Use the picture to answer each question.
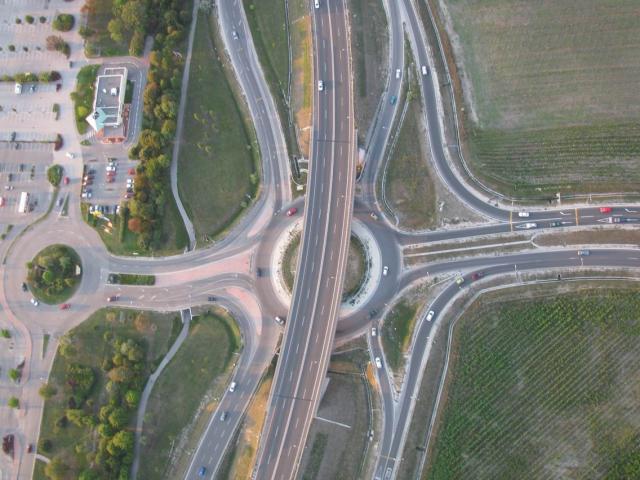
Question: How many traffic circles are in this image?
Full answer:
The number of traffic circles here is 2.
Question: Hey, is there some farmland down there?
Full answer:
Yes, the picture does contain farmland.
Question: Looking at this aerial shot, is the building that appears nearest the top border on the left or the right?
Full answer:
The building that appears nearest the top border sits on the left side.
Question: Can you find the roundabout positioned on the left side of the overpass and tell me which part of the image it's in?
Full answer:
Look in the left portion of the view to spot the roundabout positioned on the left side of the overpass.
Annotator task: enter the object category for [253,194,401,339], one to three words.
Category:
roundabout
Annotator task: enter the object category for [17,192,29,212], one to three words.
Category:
vehicle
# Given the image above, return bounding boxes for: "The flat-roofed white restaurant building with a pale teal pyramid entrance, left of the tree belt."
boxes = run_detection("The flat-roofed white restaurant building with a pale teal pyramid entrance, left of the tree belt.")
[86,66,129,126]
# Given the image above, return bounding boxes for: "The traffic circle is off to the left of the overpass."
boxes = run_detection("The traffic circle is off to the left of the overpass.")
[3,225,104,326]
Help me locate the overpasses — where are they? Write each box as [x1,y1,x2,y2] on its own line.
[250,0,356,480]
